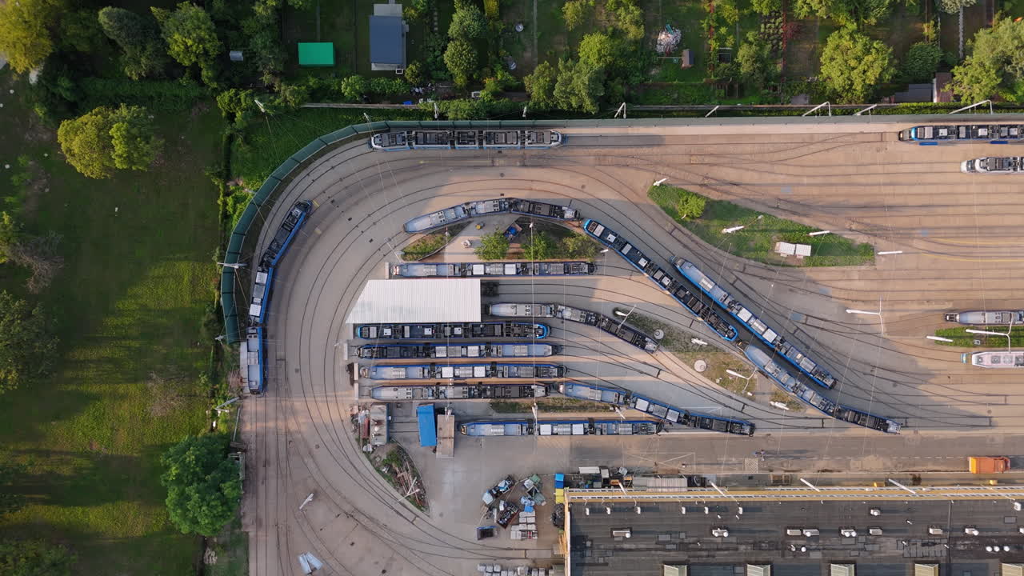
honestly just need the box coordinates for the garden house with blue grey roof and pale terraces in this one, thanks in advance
[369,4,408,71]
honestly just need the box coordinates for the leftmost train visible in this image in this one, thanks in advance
[245,200,317,393]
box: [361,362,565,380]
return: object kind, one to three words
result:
train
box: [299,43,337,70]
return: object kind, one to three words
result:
building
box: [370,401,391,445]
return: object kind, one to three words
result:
shed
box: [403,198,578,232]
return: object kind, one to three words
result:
train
